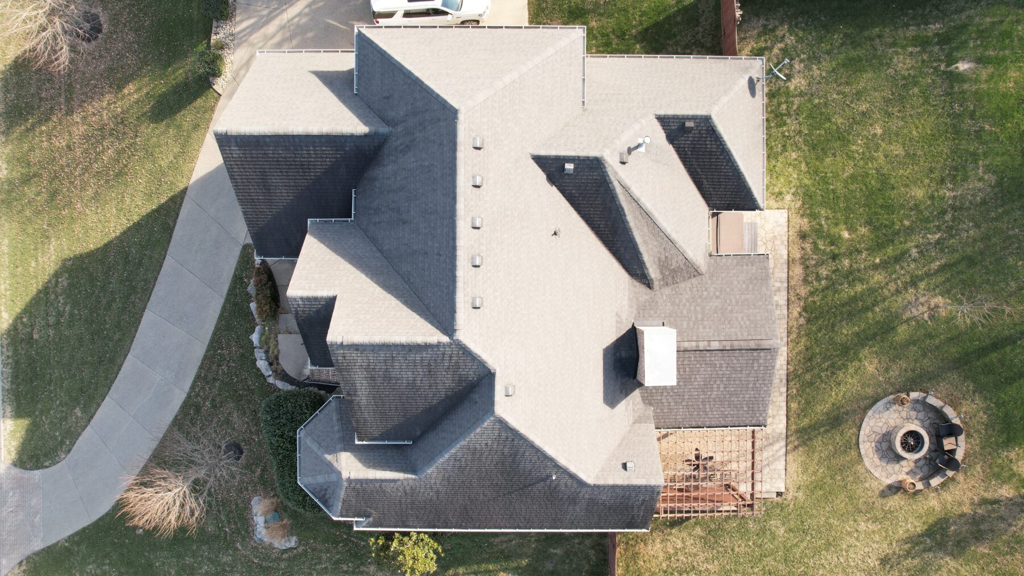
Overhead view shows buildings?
Yes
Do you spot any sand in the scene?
No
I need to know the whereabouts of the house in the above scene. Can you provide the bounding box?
[214,26,781,531]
